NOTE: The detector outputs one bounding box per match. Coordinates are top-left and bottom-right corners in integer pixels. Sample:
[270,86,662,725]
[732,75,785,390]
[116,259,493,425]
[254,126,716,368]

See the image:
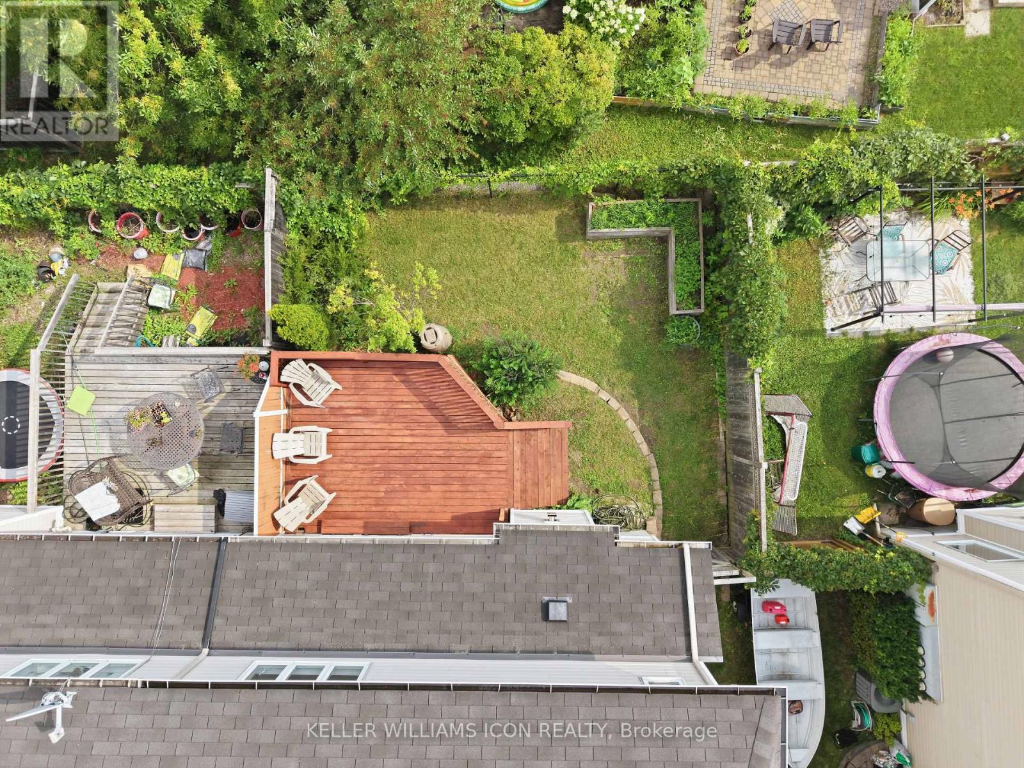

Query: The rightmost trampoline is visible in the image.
[862,329,1024,511]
